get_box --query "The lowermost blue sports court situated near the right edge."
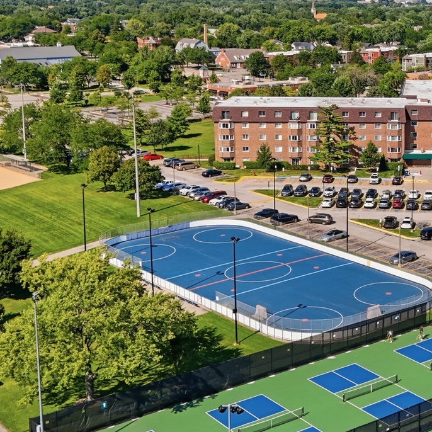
[308,364,428,420]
